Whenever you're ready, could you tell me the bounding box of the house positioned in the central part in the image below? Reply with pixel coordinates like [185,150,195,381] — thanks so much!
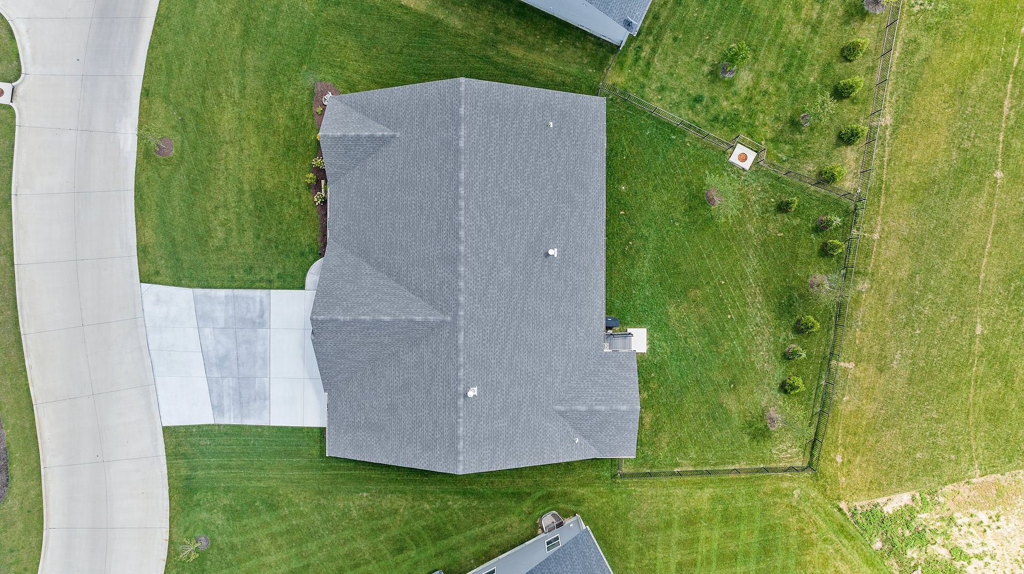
[310,78,640,474]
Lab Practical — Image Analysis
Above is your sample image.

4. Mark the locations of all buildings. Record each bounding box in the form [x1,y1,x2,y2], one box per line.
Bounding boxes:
[310,78,640,474]
[465,515,614,574]
[523,0,651,46]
